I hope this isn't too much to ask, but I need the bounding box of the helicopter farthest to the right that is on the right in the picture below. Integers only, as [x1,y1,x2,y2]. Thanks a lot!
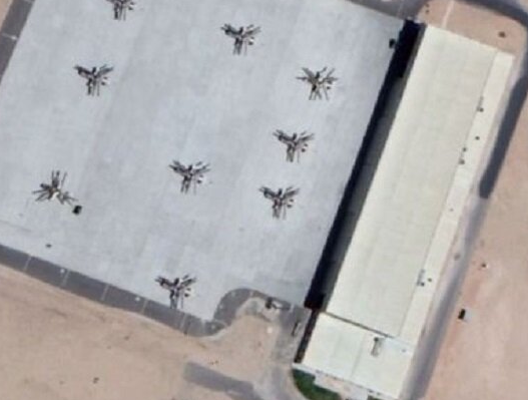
[303,69,337,100]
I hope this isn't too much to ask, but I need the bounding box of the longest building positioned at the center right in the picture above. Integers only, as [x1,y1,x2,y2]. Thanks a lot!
[314,22,514,342]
